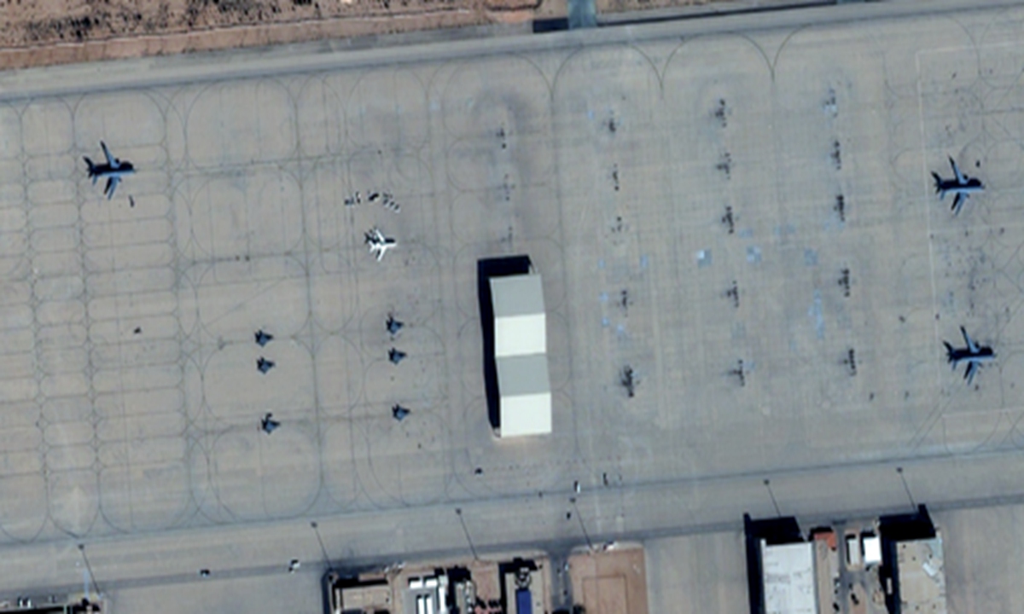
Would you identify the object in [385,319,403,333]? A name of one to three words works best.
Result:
airplane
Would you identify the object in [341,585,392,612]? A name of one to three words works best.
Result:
building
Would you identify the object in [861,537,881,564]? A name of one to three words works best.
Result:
building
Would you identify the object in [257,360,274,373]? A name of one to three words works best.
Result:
airplane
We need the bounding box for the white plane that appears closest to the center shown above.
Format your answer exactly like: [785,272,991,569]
[368,230,397,263]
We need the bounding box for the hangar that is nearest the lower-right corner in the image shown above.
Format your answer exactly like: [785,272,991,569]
[882,529,946,614]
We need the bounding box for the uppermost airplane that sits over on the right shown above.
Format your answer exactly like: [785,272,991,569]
[941,163,986,212]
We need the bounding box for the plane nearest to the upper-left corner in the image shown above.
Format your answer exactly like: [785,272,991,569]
[91,149,138,199]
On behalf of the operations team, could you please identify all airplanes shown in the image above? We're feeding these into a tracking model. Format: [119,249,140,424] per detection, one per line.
[368,230,397,263]
[262,419,279,433]
[392,408,410,421]
[91,149,138,199]
[254,333,272,347]
[388,351,407,364]
[385,319,403,333]
[257,360,274,373]
[941,163,986,212]
[952,332,997,380]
